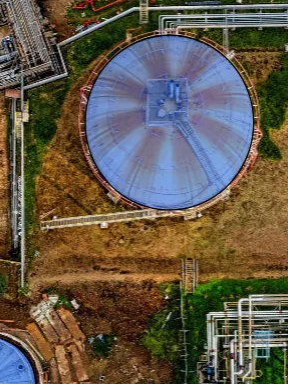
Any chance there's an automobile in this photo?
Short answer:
No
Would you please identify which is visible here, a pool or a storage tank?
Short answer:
storage tank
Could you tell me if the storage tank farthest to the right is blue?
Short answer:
Yes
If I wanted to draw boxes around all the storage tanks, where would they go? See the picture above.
[0,329,48,384]
[80,28,265,219]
